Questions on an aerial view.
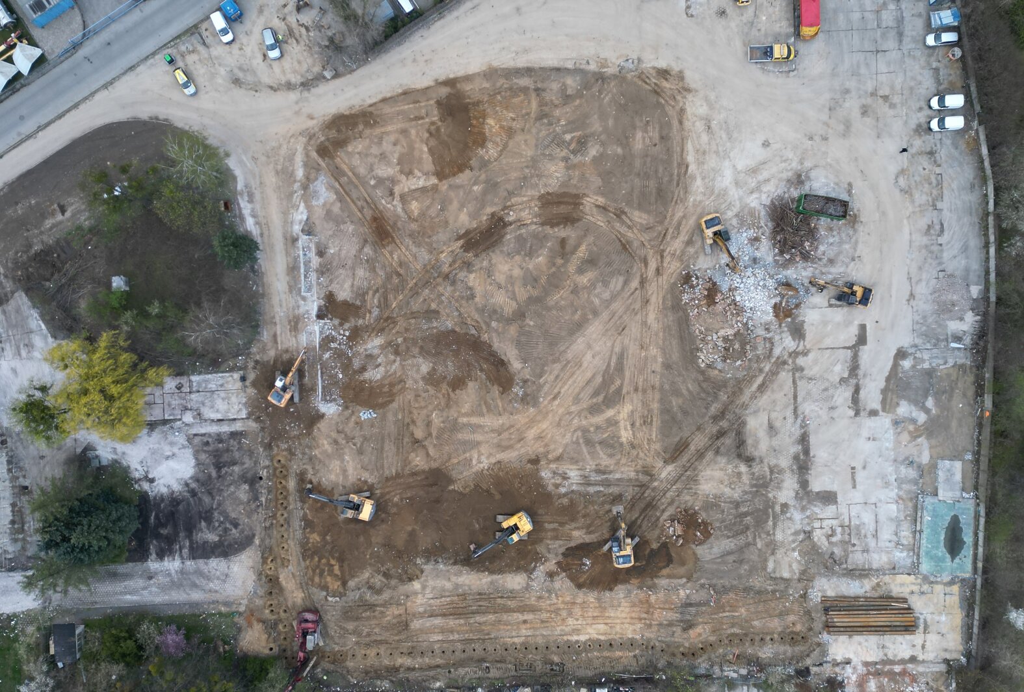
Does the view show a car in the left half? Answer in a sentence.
Yes, in the left half there is a car.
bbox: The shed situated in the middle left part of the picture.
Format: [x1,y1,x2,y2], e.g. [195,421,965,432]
[111,276,135,291]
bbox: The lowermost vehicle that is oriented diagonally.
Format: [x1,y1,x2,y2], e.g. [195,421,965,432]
[459,510,537,562]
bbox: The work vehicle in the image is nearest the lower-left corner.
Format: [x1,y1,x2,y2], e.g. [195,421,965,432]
[297,485,378,526]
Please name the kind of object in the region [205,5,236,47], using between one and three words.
van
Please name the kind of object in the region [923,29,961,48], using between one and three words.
car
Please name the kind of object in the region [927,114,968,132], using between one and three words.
vehicle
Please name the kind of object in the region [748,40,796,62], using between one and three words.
truck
